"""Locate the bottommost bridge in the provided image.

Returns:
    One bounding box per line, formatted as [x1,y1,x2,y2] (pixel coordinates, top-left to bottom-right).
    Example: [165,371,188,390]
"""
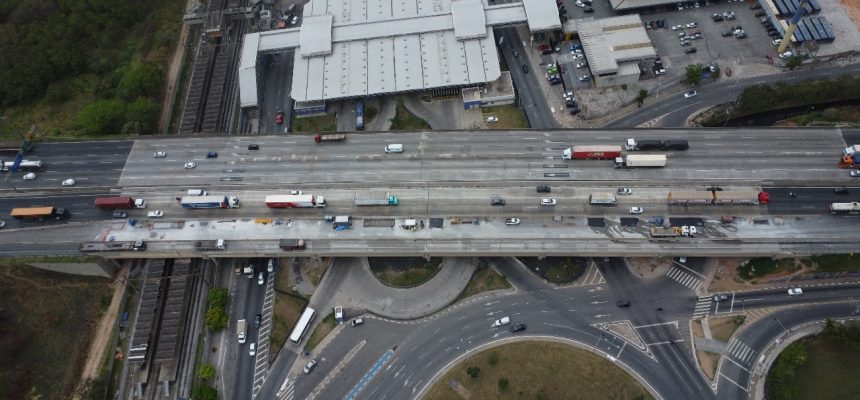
[0,124,860,271]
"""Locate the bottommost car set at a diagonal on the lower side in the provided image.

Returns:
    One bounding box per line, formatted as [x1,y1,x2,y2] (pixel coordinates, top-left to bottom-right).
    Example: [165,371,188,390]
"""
[302,357,319,375]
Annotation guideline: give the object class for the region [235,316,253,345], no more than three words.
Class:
vehicle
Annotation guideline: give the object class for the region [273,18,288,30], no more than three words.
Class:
vehicle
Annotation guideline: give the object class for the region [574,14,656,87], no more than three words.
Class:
building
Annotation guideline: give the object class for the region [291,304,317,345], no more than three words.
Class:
bus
